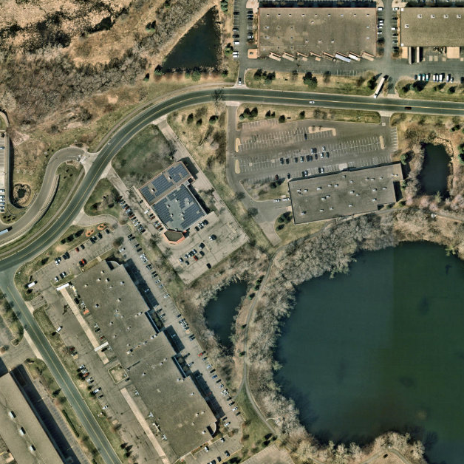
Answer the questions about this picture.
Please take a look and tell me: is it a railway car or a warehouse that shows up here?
warehouse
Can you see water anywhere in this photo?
Yes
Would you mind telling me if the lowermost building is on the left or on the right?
left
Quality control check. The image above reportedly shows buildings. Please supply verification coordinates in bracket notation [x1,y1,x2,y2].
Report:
[289,164,403,224]
[259,7,376,58]
[0,373,65,464]
[401,7,464,46]
[55,261,216,457]
[137,162,205,245]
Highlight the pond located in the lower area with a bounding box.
[205,280,247,351]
